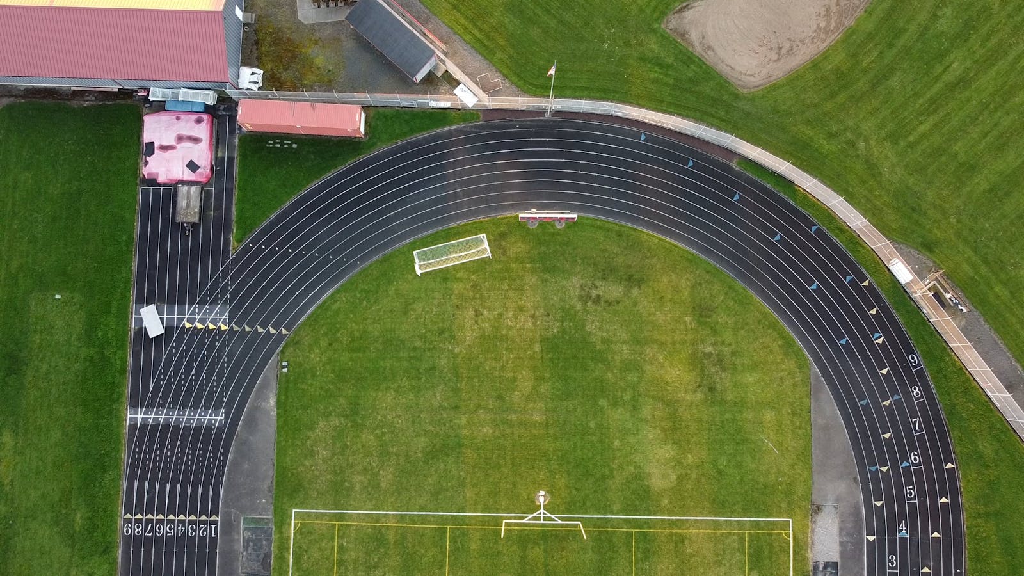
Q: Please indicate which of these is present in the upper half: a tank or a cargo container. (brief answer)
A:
cargo container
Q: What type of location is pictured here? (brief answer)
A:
sports ground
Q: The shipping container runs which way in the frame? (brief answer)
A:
from side to side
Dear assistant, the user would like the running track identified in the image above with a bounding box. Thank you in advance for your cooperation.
[115,101,968,576]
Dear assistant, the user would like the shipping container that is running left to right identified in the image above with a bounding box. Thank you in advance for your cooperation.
[237,99,366,137]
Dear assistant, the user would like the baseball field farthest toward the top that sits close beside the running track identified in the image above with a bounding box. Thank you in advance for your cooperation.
[428,0,1024,366]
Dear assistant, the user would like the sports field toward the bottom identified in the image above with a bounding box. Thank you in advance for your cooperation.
[271,216,812,576]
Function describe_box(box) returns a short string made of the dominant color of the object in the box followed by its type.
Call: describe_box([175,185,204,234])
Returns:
gray trailer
